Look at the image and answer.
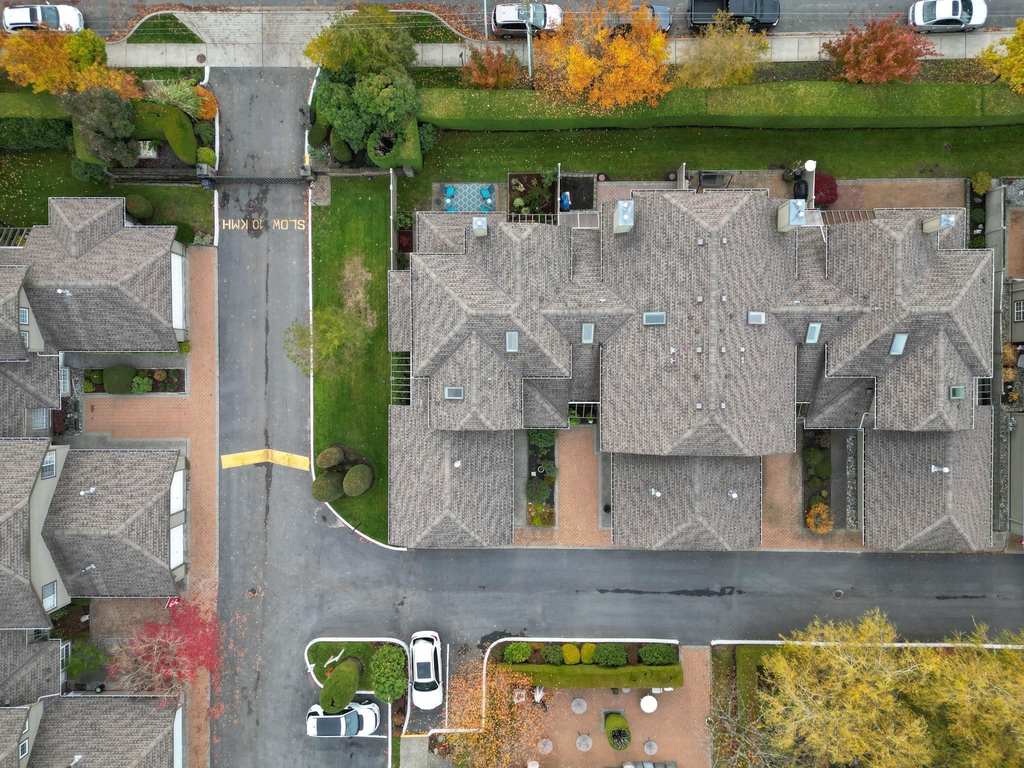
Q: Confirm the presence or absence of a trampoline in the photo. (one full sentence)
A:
No, there is no trampoline in the image.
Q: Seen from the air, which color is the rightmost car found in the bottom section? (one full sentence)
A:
The rightmost car found in the bottom section looks white in the image.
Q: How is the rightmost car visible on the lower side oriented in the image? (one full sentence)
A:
The rightmost car visible on the lower side is oriented up and down.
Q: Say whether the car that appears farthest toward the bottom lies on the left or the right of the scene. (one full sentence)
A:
It is on the left.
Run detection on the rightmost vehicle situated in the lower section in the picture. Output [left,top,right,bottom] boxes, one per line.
[407,631,445,708]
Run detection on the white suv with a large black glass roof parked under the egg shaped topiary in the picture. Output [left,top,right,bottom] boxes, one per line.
[308,697,381,742]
